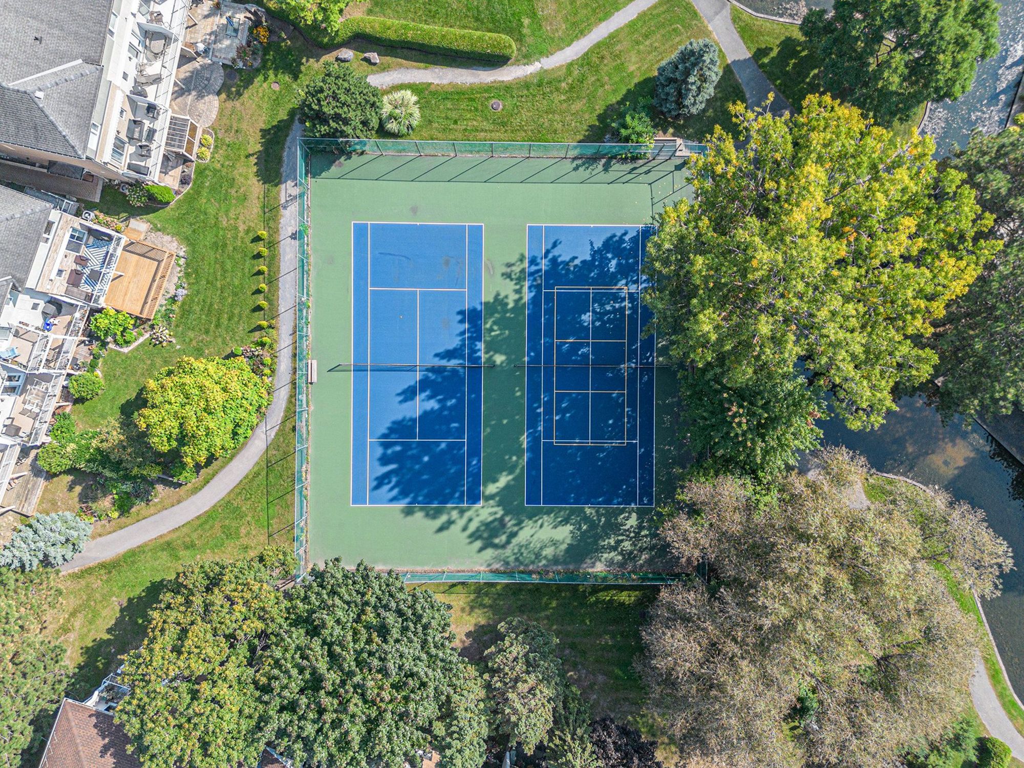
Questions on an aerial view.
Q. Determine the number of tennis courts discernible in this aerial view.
2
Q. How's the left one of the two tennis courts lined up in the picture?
from top to bottom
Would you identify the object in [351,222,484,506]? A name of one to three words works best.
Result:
tennis court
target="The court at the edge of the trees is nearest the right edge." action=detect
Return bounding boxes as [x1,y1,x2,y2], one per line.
[525,224,657,507]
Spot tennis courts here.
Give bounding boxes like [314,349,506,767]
[525,224,657,507]
[351,222,484,506]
